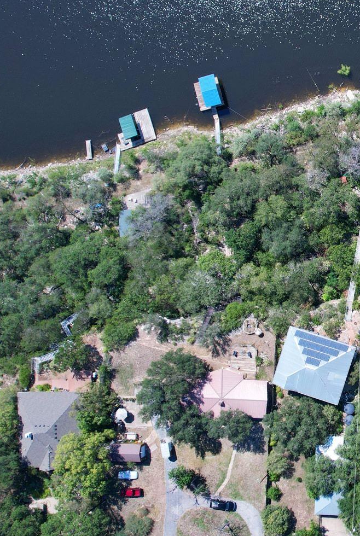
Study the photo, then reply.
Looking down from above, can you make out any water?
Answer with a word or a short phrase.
Yes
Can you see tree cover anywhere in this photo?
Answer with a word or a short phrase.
Yes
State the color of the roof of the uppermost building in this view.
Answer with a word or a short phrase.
blue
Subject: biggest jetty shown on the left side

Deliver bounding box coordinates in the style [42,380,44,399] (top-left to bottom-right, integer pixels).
[116,108,156,151]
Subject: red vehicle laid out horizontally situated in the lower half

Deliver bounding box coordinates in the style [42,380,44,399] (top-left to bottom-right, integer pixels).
[119,488,143,500]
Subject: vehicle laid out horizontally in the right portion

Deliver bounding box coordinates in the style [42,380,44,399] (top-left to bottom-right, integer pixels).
[208,500,236,513]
